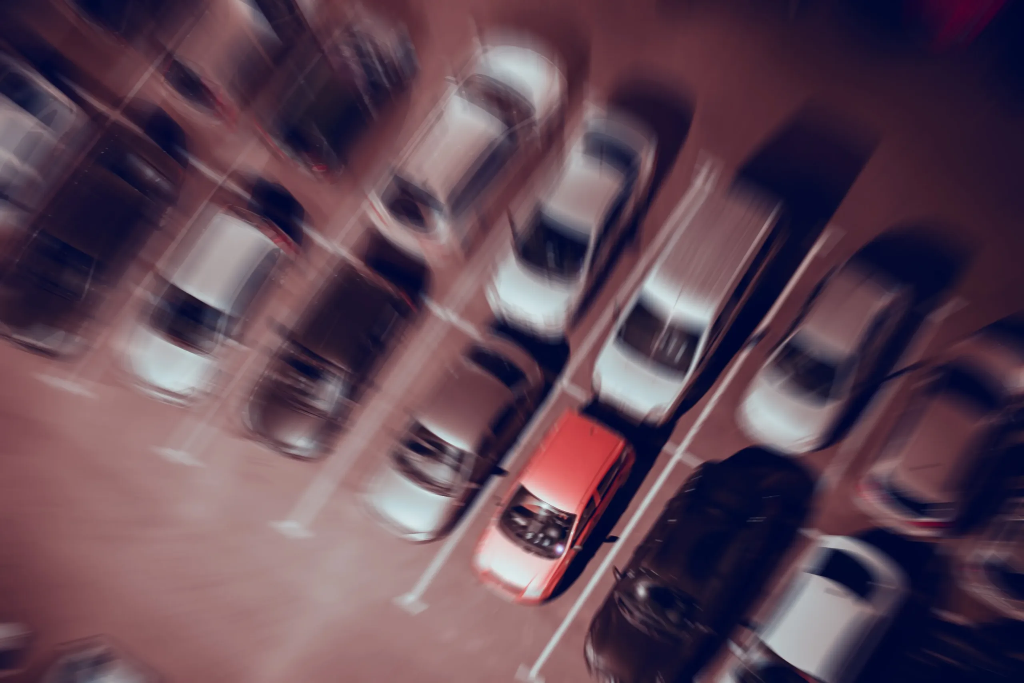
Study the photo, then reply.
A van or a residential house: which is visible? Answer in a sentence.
There is a van in the scene.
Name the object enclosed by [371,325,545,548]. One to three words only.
car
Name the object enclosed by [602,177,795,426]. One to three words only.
van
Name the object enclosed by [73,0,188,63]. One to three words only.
car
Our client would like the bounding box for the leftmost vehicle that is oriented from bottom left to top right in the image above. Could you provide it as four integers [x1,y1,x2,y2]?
[7,128,192,357]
